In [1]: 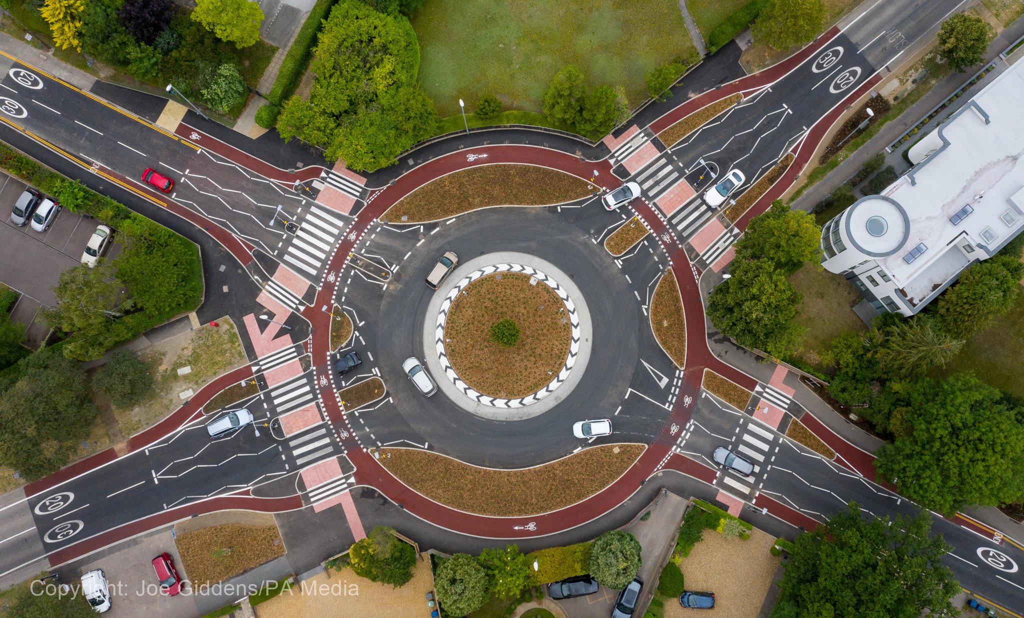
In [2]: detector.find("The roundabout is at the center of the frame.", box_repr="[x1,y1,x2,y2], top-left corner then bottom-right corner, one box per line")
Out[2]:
[301,145,720,539]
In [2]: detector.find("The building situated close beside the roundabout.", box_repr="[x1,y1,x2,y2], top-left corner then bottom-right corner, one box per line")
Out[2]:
[817,54,1024,318]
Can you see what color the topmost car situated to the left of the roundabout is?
red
